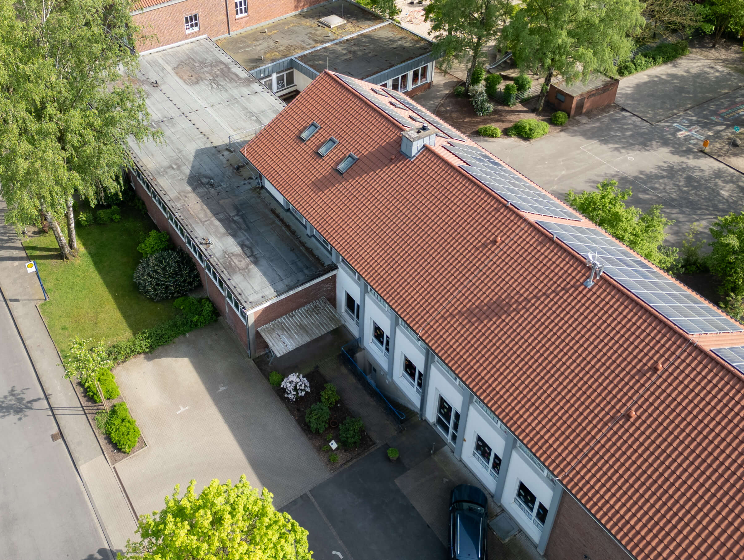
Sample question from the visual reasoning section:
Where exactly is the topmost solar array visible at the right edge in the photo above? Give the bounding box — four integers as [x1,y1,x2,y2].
[541,221,741,333]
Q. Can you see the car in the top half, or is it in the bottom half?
bottom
